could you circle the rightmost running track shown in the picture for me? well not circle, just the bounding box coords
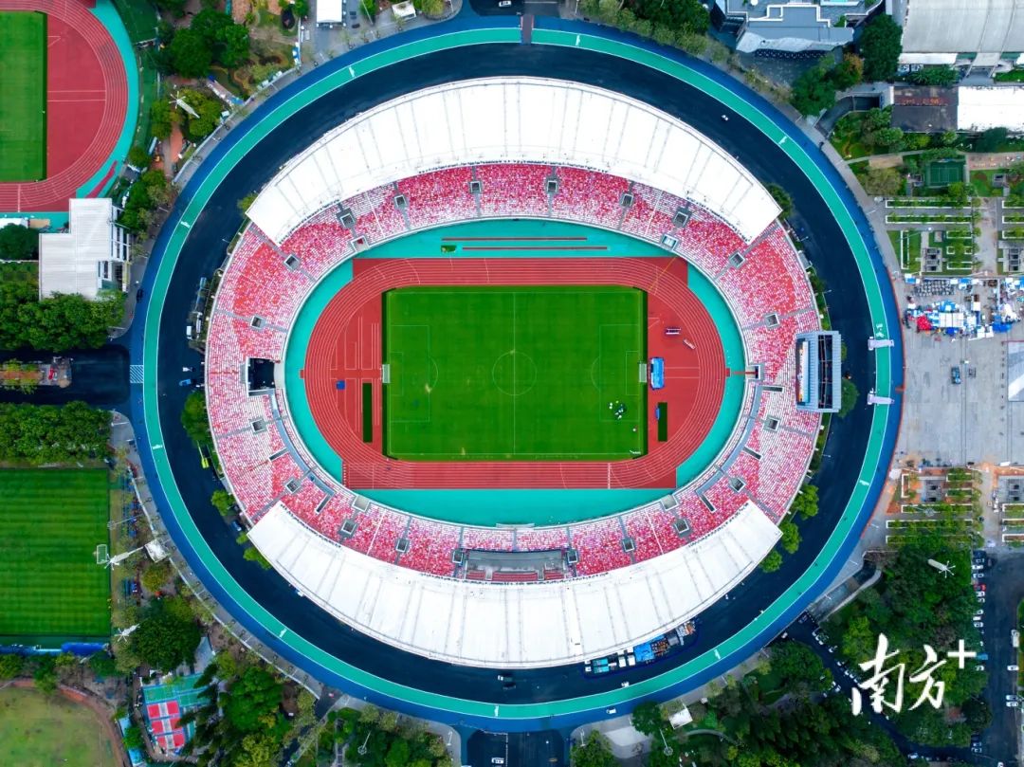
[285,222,754,525]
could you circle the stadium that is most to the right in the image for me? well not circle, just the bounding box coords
[205,78,820,669]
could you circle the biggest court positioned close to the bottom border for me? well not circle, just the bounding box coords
[143,673,214,745]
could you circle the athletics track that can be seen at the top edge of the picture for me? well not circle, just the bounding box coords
[0,0,138,230]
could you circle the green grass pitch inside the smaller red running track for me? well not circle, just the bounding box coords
[0,11,47,181]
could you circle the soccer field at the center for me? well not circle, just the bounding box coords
[382,285,648,461]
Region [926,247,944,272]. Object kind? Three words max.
building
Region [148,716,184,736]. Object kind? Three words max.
sports court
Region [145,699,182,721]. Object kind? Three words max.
sports court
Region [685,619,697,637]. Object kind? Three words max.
vehicle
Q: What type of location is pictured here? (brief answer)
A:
sports ground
